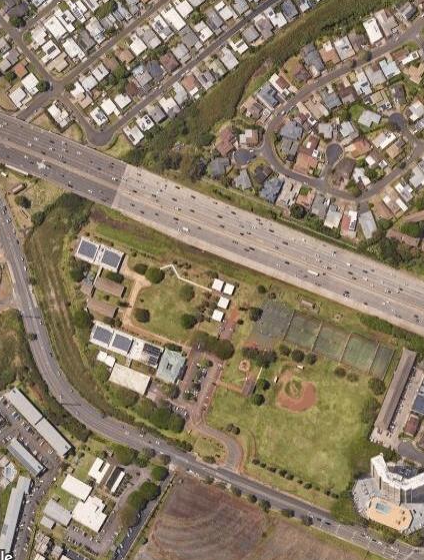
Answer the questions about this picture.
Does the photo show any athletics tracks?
No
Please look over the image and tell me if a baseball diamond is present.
Yes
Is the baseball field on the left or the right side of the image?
right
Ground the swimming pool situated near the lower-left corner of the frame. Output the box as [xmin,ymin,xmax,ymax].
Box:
[1,462,17,481]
